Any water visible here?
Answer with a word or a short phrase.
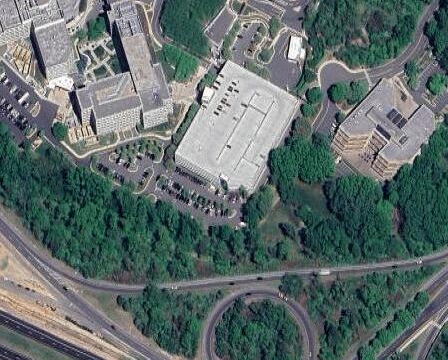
No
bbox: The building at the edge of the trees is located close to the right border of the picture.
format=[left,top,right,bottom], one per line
[335,78,439,177]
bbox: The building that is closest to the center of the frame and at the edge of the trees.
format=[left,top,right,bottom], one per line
[176,61,300,195]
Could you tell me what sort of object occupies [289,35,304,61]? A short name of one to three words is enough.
building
